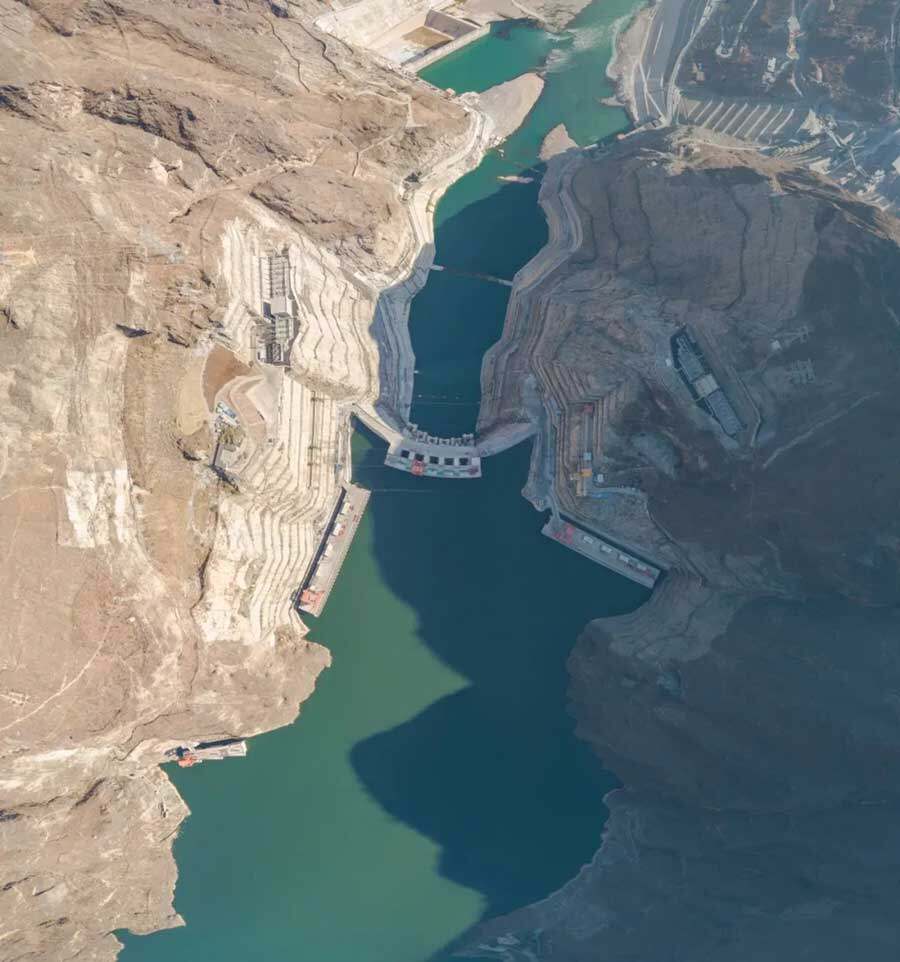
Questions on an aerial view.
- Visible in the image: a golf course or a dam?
dam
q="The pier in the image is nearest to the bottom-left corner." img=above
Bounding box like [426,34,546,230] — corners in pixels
[185,742,246,763]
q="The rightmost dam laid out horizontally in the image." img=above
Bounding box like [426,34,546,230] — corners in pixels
[350,404,540,479]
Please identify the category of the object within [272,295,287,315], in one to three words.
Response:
building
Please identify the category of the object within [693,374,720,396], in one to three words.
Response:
building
